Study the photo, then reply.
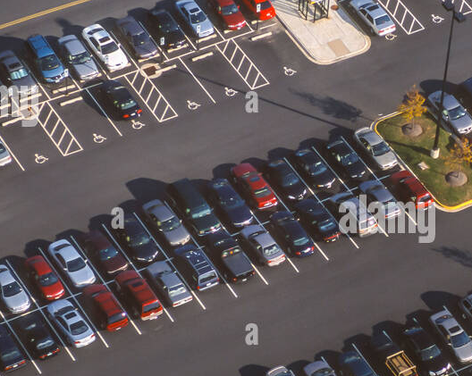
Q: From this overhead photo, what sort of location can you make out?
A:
parking lot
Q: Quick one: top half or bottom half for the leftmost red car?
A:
bottom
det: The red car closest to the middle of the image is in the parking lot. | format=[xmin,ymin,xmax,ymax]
[234,166,276,210]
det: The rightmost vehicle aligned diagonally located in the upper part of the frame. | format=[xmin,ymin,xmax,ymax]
[429,90,472,135]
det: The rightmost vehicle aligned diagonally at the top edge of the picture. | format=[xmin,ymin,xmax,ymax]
[352,0,394,37]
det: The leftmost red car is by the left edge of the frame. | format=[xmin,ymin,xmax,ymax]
[20,252,65,302]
